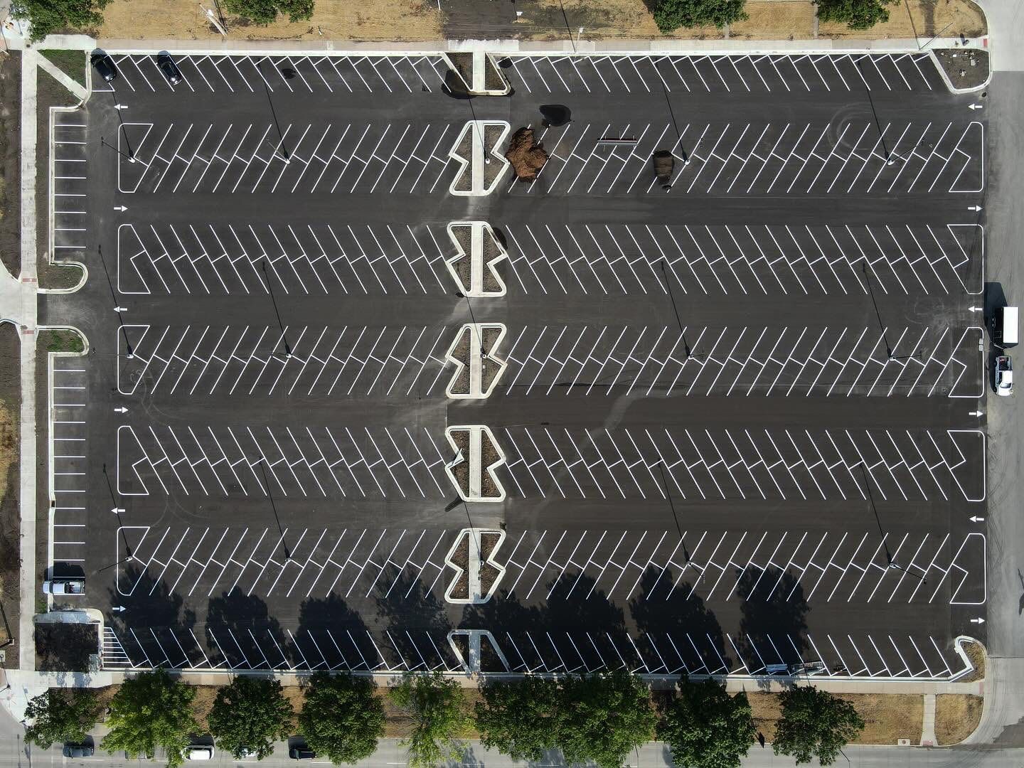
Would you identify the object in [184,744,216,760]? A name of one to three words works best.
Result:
car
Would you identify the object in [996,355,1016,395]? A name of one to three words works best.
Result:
vehicle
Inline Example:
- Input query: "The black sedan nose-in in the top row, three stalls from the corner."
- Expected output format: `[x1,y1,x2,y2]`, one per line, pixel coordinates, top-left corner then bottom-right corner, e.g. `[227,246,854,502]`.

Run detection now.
[156,52,182,82]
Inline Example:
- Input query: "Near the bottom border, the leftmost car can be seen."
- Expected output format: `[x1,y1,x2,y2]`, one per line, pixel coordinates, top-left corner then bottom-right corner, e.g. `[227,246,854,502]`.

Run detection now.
[63,744,94,760]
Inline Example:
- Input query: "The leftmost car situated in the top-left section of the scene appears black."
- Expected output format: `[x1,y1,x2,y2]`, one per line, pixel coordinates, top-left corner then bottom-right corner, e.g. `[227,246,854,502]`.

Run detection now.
[88,50,115,82]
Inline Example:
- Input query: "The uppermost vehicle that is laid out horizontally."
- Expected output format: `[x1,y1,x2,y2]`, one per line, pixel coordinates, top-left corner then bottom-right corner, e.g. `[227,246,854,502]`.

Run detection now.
[42,580,83,597]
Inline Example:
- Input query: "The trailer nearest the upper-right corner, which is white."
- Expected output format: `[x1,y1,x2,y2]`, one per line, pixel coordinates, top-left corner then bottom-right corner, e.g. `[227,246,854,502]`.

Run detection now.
[992,304,1019,350]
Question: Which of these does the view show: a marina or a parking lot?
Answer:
parking lot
